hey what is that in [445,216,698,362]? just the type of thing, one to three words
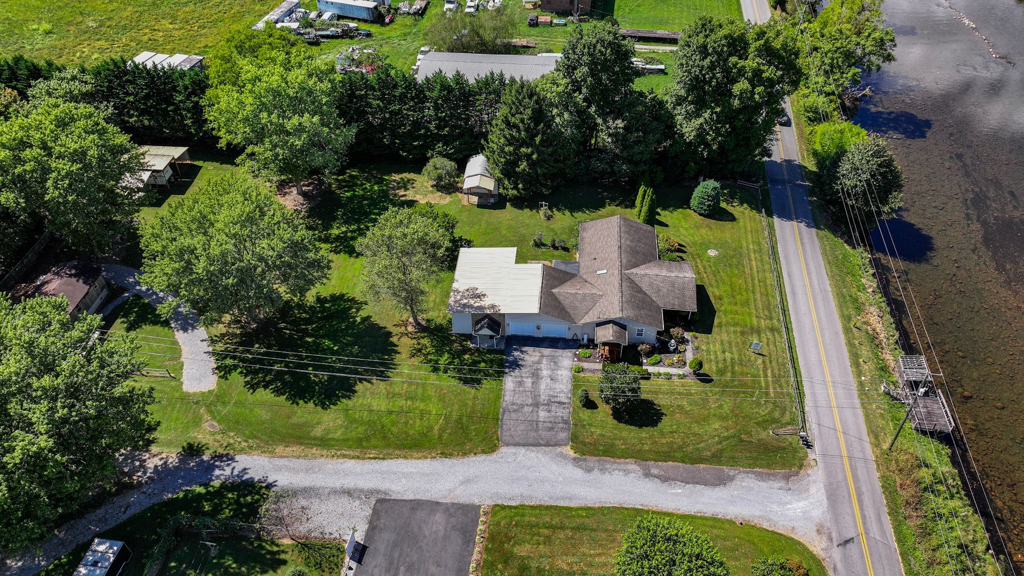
house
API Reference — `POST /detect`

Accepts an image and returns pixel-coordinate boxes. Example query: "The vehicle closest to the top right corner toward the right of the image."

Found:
[778,107,792,124]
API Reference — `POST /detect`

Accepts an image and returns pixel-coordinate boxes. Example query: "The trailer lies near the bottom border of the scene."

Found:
[75,536,125,576]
